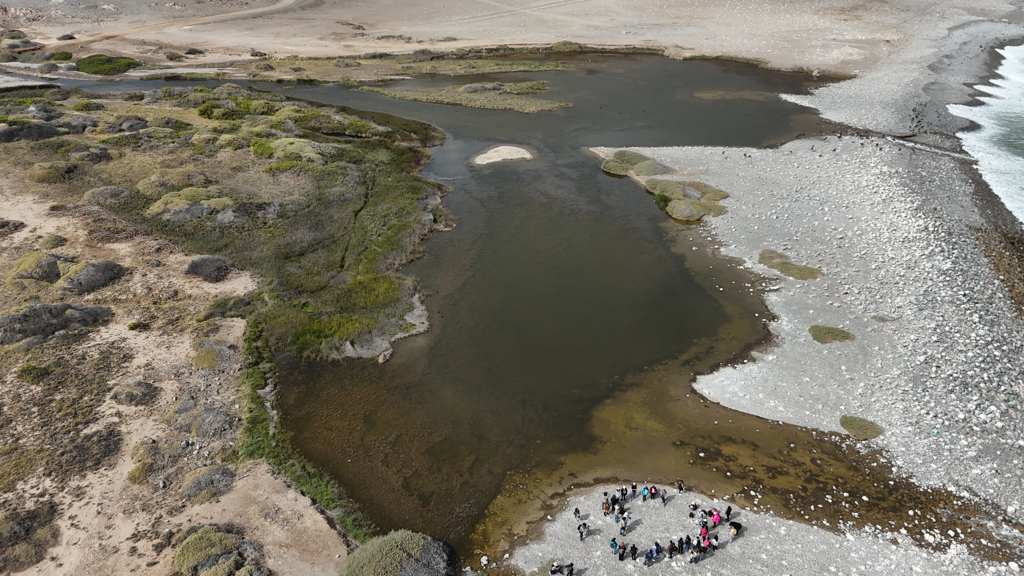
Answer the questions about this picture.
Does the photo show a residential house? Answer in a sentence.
No, I can't see a single residential house in this photo.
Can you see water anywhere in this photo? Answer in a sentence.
Yes, water can be seen from above here.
